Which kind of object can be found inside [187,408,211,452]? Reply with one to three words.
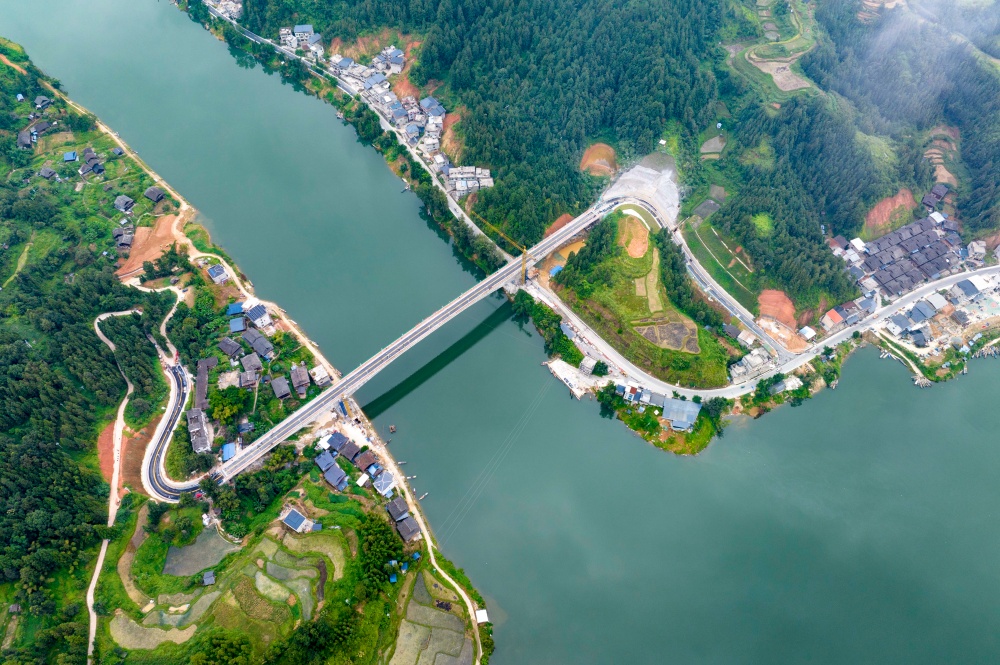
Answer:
house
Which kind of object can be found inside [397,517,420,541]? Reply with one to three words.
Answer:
house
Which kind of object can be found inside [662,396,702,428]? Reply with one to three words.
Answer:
building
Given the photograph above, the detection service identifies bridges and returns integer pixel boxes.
[219,208,600,478]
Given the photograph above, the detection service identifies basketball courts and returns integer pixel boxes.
[964,297,1000,319]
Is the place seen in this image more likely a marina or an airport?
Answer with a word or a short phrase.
marina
